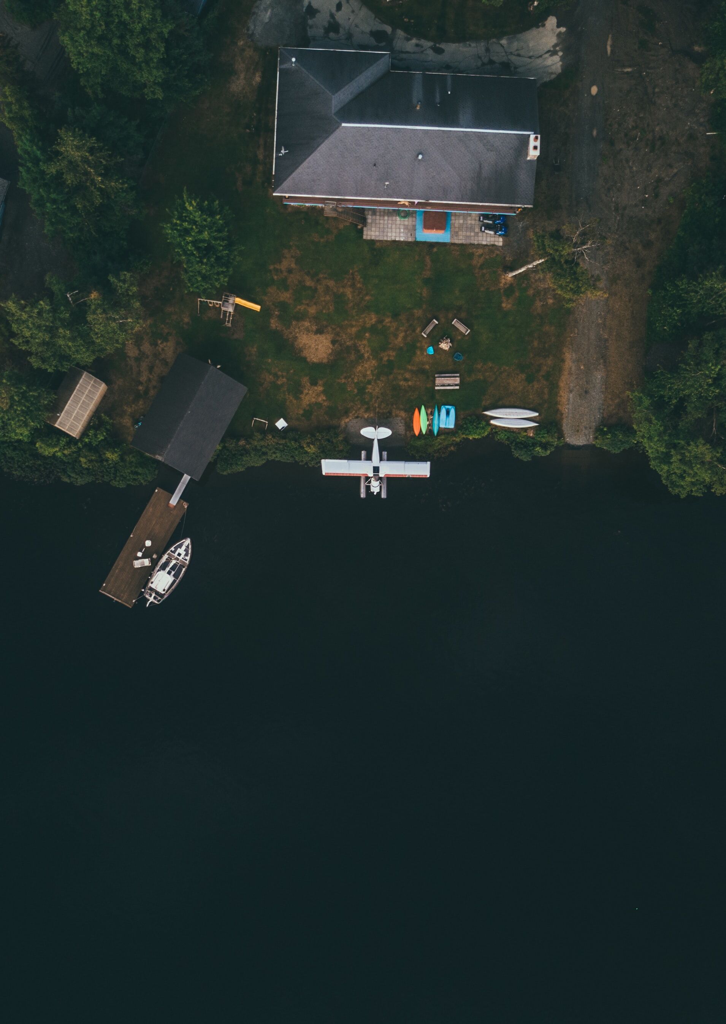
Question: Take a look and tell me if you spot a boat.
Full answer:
Yes, this view includes a boat.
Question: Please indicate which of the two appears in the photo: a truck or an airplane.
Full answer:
This aerial view contains an airplane.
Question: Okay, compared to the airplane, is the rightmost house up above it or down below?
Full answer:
Looking at the scene, the rightmost house is located above the airplane.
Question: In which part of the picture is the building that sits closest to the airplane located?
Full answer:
The building that sits closest to the airplane is in the left part of the image.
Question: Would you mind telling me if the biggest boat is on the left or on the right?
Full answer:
The biggest boat appears in the left half of the scene.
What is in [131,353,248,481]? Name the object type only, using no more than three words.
building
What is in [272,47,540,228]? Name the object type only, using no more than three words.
house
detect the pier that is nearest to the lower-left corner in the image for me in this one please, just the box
[99,487,189,608]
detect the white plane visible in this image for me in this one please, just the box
[321,427,431,499]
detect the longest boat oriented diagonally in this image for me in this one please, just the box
[144,537,191,607]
